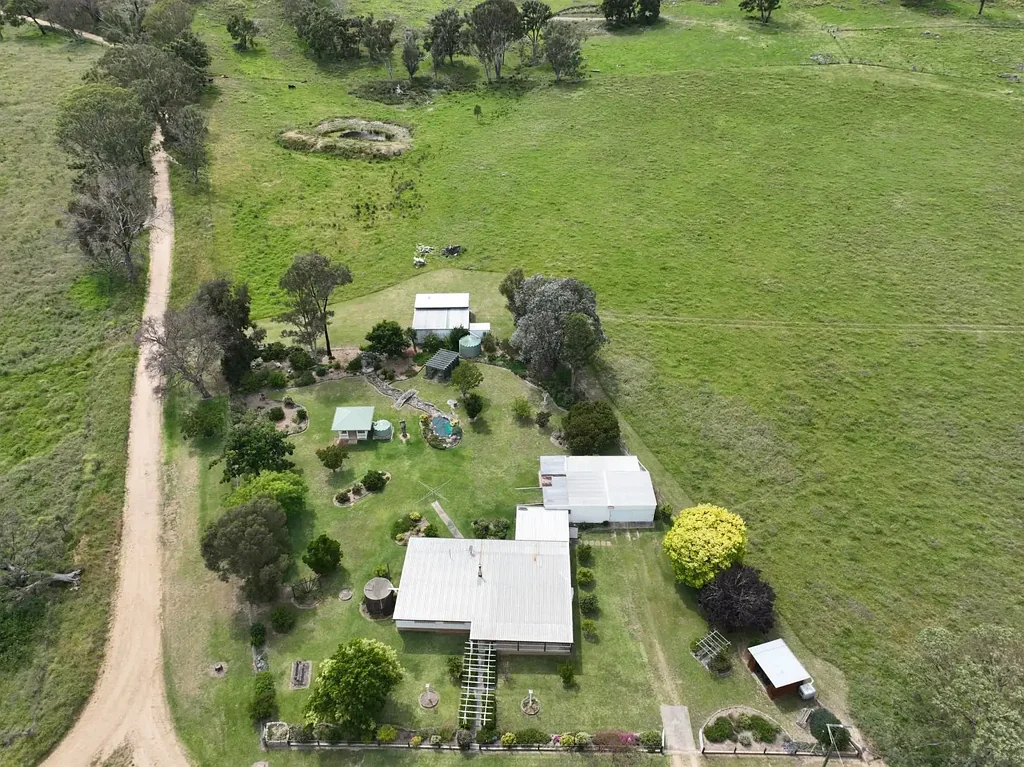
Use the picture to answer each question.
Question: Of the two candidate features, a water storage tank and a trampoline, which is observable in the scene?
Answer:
water storage tank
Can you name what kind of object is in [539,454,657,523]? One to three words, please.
building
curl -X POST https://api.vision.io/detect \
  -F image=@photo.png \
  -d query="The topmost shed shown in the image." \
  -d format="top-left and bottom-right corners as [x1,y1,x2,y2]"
[411,292,489,343]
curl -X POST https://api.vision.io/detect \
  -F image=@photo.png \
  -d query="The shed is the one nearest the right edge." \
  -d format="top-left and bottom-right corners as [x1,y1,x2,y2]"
[746,638,810,701]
